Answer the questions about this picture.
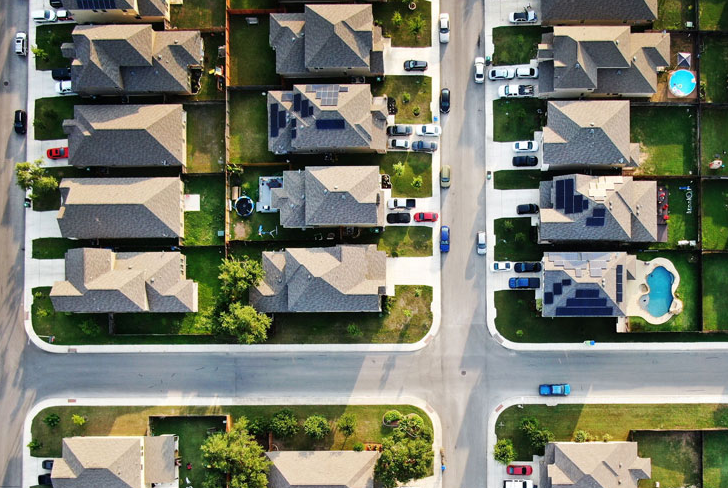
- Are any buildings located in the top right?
Yes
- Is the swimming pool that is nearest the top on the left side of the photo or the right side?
right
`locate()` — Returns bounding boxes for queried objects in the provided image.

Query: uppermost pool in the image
[669,67,698,97]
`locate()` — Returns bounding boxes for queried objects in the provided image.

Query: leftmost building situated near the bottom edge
[49,438,151,488]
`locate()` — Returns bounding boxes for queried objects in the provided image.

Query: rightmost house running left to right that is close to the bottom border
[540,442,651,488]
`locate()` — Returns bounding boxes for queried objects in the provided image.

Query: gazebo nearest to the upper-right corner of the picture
[677,47,694,66]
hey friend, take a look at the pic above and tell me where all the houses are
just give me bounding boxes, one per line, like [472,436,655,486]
[543,252,637,317]
[49,438,151,488]
[249,242,386,312]
[58,0,185,22]
[271,166,384,228]
[56,177,186,239]
[51,246,196,312]
[267,451,386,488]
[62,104,186,168]
[538,25,670,97]
[270,3,384,78]
[539,171,658,243]
[61,23,203,97]
[540,442,651,488]
[268,84,388,155]
[541,99,640,170]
